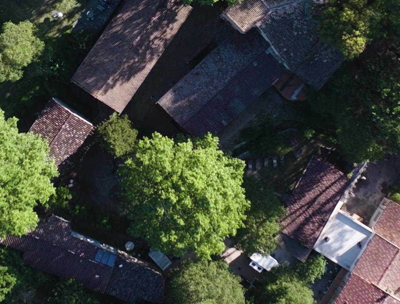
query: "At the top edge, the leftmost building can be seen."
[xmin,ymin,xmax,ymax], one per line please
[76,0,192,114]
